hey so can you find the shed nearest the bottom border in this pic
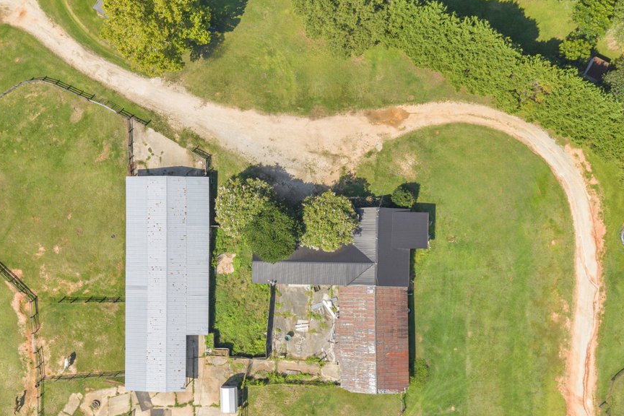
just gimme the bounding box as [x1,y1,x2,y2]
[221,385,238,413]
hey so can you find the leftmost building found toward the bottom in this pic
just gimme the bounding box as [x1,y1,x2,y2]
[125,176,210,391]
